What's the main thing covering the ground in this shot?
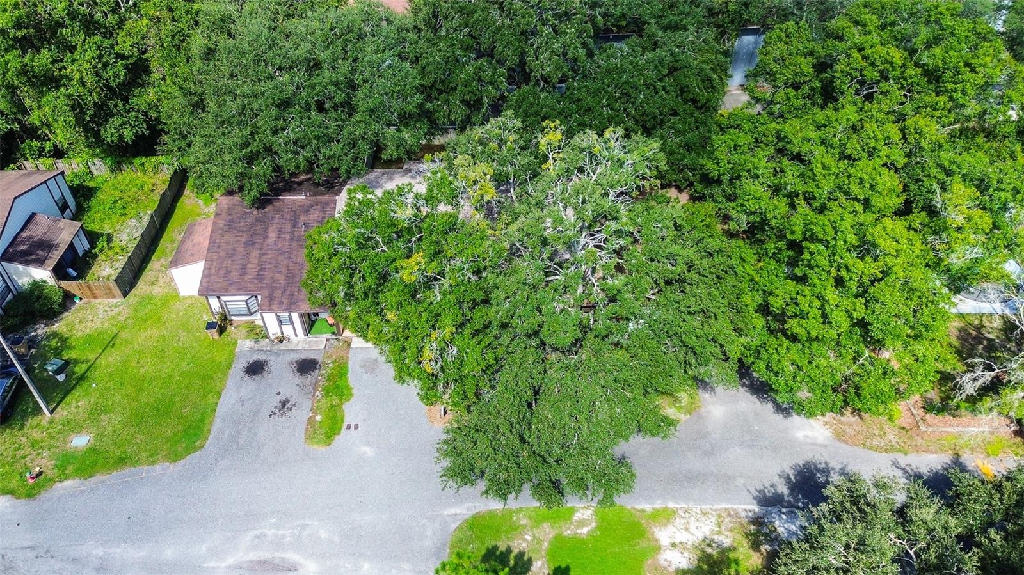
trees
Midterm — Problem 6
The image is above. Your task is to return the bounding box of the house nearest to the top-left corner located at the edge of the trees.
[0,170,95,295]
